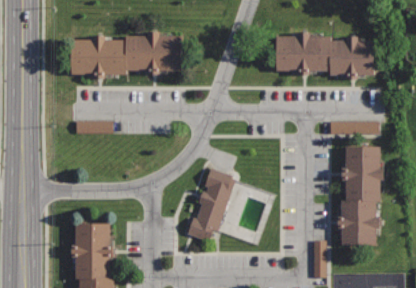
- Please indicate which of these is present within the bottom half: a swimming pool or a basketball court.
swimming pool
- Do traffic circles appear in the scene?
No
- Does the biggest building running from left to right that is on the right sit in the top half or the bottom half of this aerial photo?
top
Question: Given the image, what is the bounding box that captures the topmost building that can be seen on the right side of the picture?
[276,33,374,80]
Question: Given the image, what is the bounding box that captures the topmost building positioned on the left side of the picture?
[71,33,182,78]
